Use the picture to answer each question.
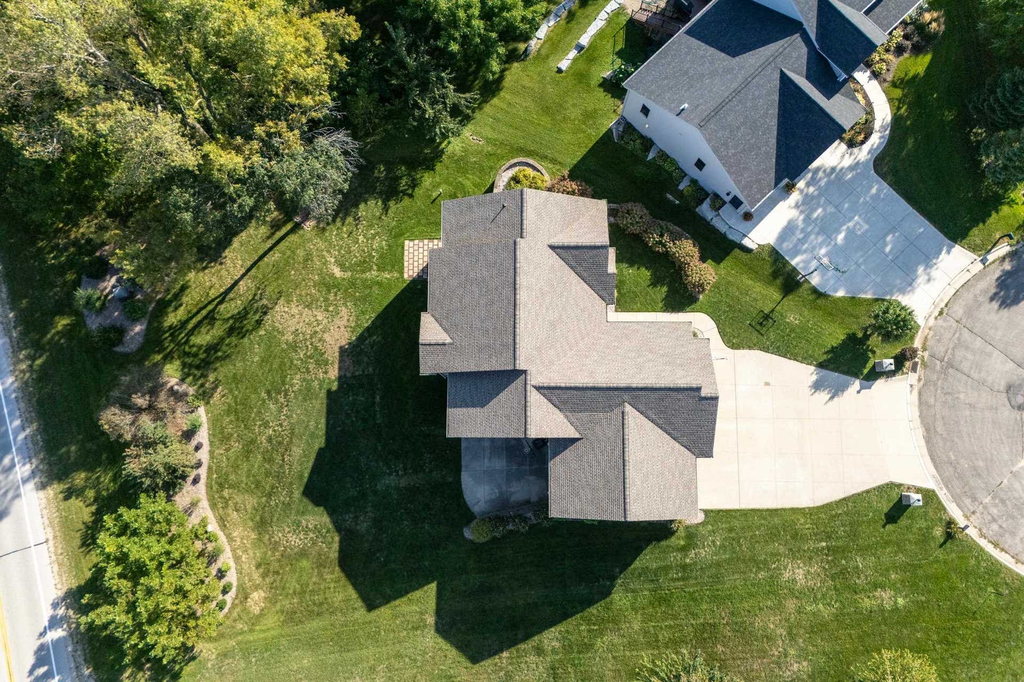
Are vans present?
No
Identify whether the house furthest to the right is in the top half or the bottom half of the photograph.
top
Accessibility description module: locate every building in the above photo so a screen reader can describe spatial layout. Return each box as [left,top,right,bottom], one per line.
[417,187,719,520]
[622,0,926,218]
